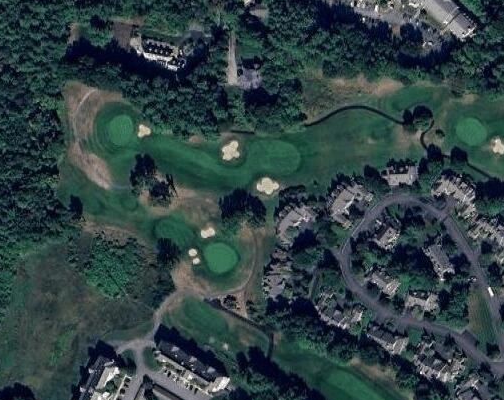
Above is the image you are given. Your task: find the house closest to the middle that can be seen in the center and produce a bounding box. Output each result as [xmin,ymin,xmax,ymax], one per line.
[271,203,316,249]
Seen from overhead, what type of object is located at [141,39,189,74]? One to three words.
house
